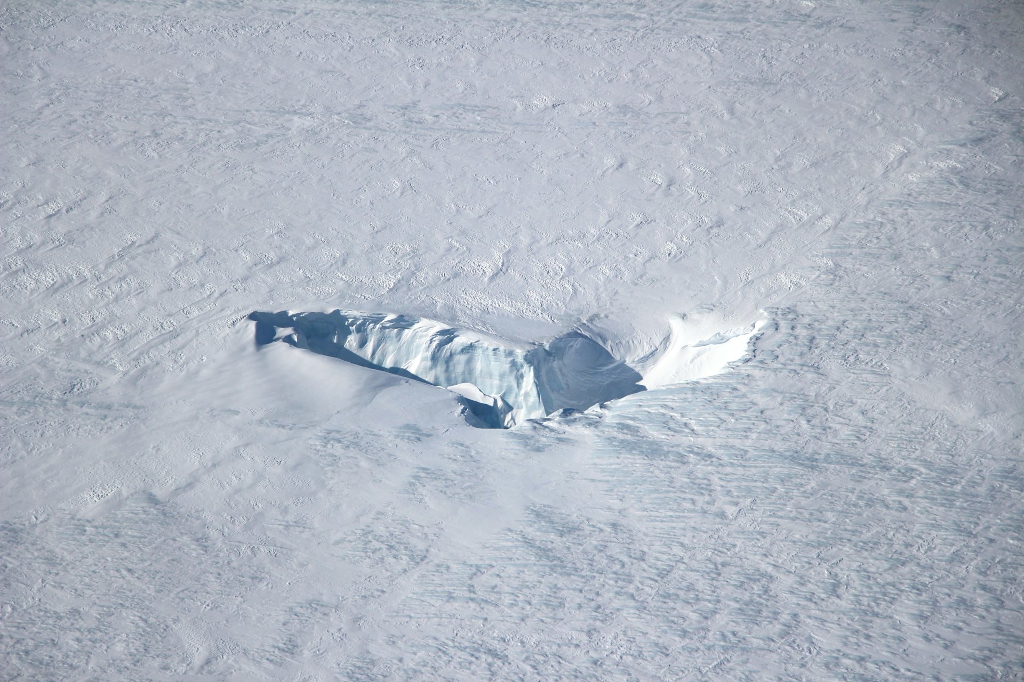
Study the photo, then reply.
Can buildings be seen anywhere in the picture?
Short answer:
No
